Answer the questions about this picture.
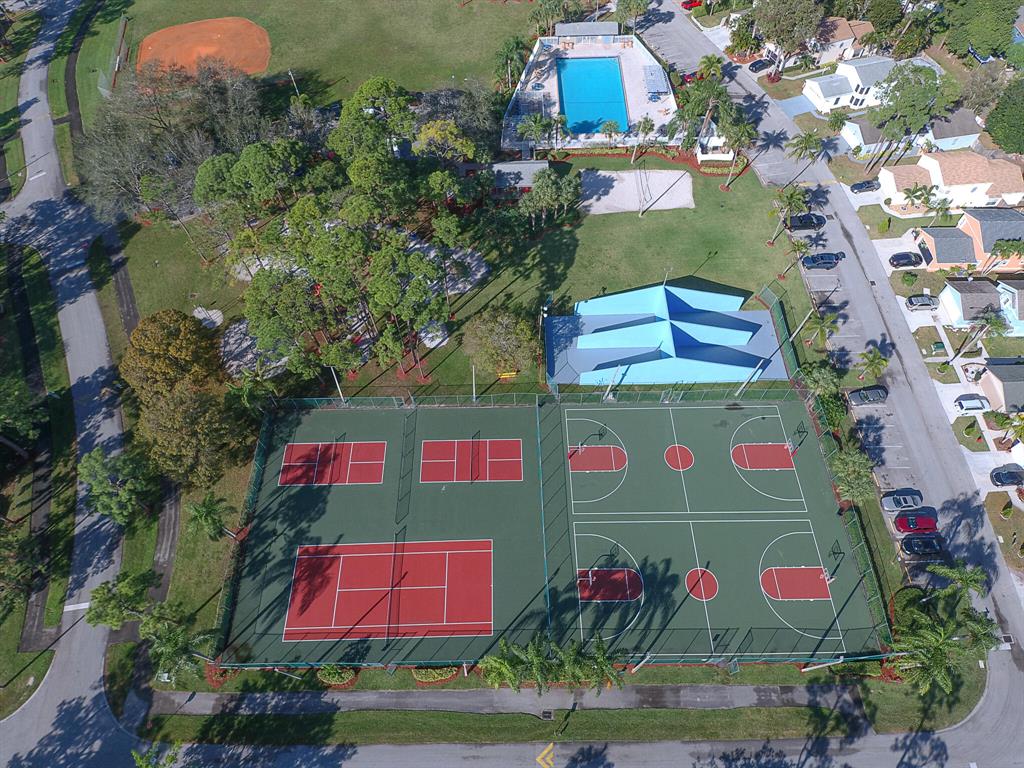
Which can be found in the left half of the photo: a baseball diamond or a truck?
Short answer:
baseball diamond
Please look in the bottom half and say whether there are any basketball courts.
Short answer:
Yes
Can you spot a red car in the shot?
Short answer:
Yes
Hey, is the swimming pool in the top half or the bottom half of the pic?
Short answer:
top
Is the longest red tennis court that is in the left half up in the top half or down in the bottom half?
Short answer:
bottom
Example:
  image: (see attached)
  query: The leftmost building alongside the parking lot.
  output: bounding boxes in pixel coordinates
[555,21,620,44]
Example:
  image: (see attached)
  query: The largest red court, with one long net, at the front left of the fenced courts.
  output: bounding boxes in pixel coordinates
[283,533,492,647]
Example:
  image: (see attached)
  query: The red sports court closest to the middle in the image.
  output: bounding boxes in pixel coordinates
[420,436,525,484]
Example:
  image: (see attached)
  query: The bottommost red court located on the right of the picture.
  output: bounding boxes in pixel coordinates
[572,519,846,655]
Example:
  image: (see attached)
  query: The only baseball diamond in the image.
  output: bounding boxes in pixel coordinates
[135,17,273,113]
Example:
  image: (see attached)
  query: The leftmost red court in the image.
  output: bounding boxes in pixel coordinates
[278,437,387,487]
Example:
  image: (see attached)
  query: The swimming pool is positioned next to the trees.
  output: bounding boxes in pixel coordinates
[502,42,679,151]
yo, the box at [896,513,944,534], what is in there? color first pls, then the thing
red car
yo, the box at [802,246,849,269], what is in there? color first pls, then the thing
blue car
